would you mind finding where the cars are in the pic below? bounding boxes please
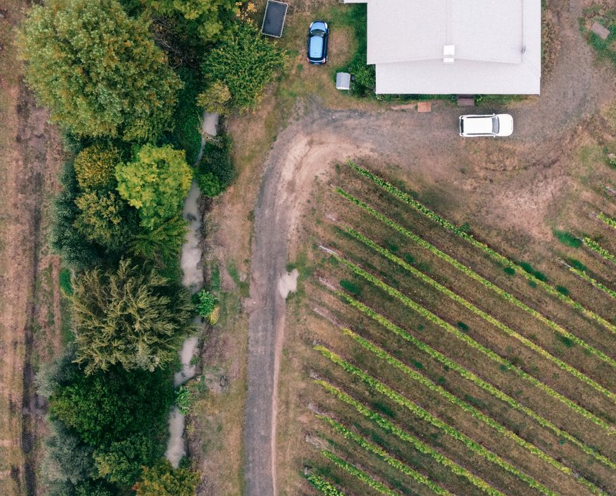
[306,23,330,67]
[460,113,512,138]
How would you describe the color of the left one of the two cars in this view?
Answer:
blue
